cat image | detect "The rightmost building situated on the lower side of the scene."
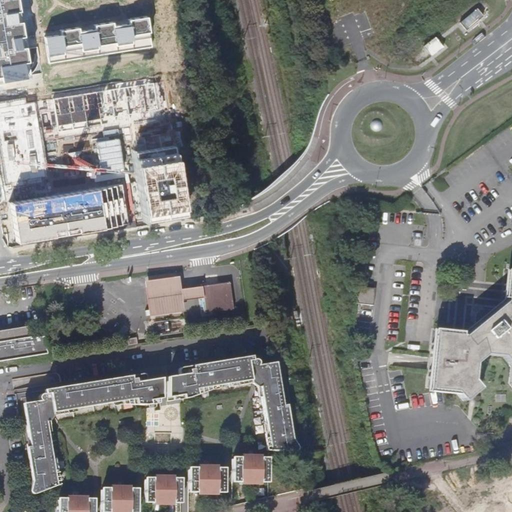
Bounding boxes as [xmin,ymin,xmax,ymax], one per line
[422,262,512,402]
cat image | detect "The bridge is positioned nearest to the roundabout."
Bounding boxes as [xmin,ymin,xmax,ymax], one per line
[246,94,331,244]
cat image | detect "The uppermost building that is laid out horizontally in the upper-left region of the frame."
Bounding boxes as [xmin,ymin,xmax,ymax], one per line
[42,18,154,63]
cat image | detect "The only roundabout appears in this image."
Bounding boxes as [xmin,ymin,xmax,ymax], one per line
[330,80,436,186]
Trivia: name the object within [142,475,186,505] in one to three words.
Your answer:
house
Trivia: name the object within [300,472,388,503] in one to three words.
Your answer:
bridge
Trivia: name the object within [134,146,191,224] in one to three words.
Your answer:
building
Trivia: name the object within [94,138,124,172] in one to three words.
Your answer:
shed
